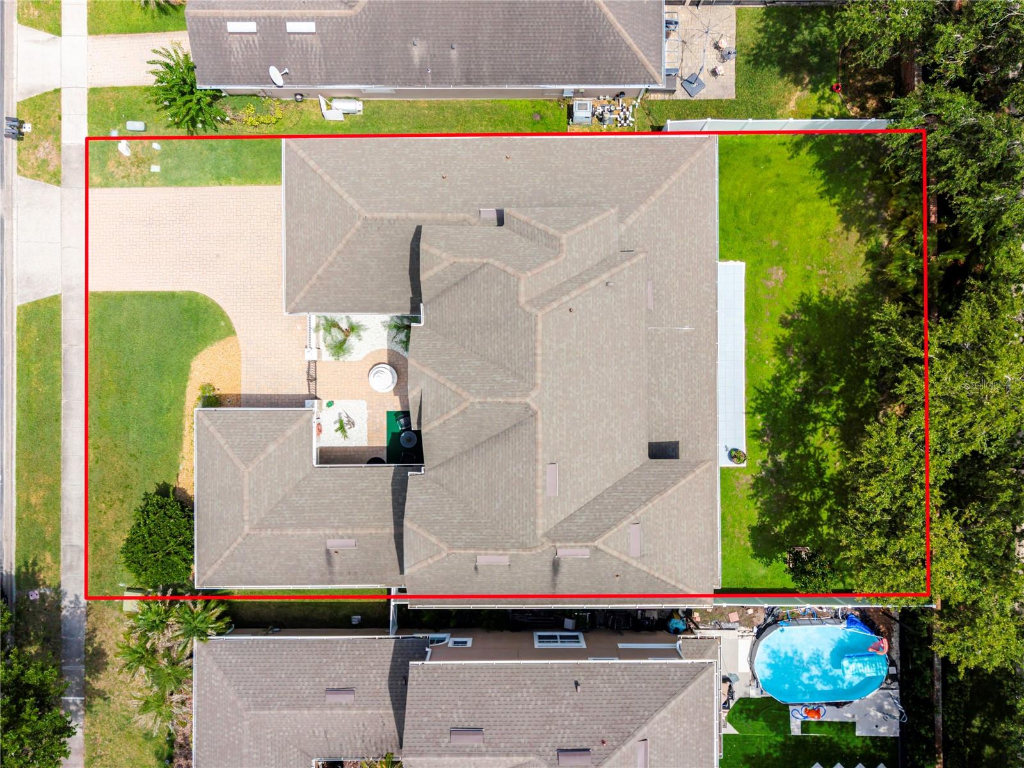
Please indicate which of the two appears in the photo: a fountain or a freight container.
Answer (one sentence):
This aerial view contains a fountain.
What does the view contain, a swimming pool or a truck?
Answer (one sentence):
I can see a swimming pool in this picture.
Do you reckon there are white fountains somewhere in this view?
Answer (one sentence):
Yes, I can see a white fountain in this picture.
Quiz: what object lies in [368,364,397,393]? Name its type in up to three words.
fountain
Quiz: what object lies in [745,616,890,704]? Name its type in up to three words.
swimming pool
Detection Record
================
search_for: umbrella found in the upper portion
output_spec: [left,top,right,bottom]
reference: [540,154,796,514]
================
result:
[677,6,734,97]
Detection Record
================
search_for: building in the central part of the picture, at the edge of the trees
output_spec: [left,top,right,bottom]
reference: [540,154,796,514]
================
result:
[192,132,725,609]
